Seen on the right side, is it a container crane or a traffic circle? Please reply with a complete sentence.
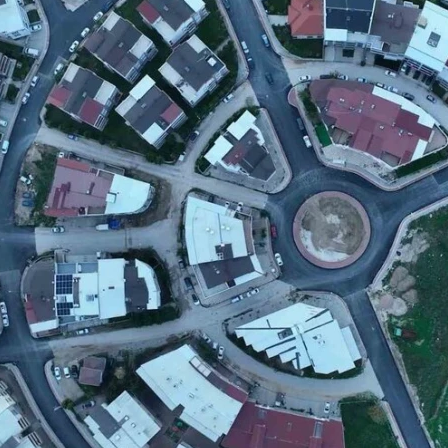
What appears on the right side is a traffic circle.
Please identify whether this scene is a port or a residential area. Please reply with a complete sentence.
The area seen from above is a residential area.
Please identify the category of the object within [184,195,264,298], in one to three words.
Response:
building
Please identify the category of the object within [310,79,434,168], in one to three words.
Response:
building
